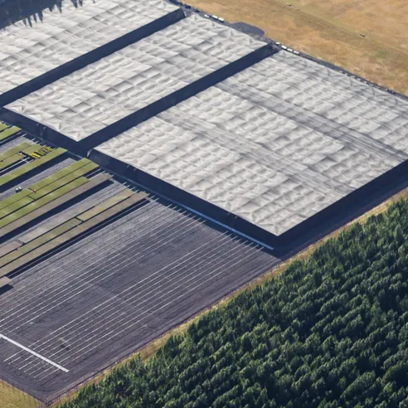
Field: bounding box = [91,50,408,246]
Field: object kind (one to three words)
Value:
house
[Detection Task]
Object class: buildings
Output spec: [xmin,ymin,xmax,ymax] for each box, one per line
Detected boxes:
[91,50,408,246]
[0,0,183,105]
[2,14,268,150]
